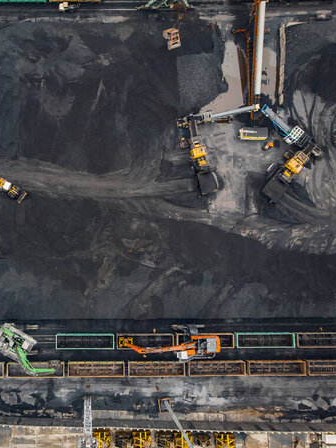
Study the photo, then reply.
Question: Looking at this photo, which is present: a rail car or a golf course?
rail car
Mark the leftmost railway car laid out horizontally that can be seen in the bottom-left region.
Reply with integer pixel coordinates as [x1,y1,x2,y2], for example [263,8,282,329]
[6,360,67,377]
